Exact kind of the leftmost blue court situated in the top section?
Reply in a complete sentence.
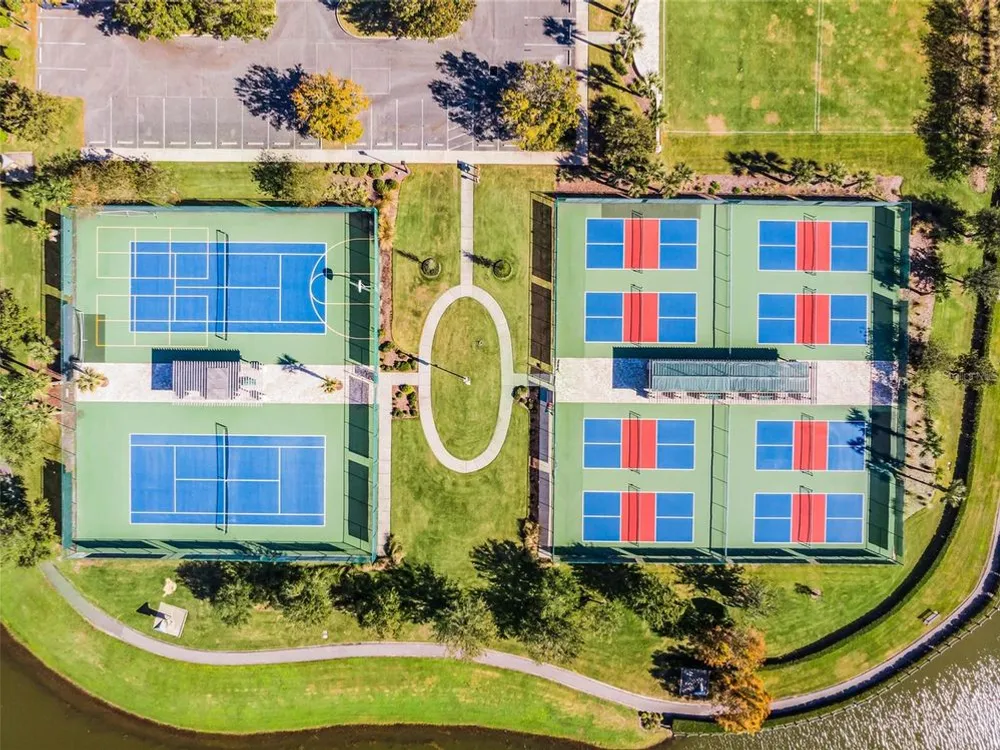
The leftmost blue court situated in the top section appears to be a tennis court.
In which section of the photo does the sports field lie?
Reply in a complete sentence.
You can find the sports field in the top right area of the picture.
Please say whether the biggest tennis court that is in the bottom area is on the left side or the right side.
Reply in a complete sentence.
The biggest tennis court that is in the bottom area is on the left side of the image.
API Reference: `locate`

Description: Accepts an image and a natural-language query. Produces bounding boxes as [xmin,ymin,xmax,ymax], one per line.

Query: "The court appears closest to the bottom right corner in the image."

[754,492,864,543]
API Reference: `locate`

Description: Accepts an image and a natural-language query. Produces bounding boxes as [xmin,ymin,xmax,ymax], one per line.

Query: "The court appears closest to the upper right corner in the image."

[758,220,869,271]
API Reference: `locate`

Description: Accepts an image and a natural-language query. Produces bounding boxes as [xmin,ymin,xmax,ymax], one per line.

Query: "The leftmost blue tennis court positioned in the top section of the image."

[130,241,326,335]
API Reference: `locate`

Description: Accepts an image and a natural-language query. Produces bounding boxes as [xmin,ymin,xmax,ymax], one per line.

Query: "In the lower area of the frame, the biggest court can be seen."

[130,434,326,526]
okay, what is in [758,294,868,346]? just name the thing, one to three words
sports court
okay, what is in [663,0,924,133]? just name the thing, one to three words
sports field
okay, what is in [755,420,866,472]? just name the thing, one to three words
sports court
